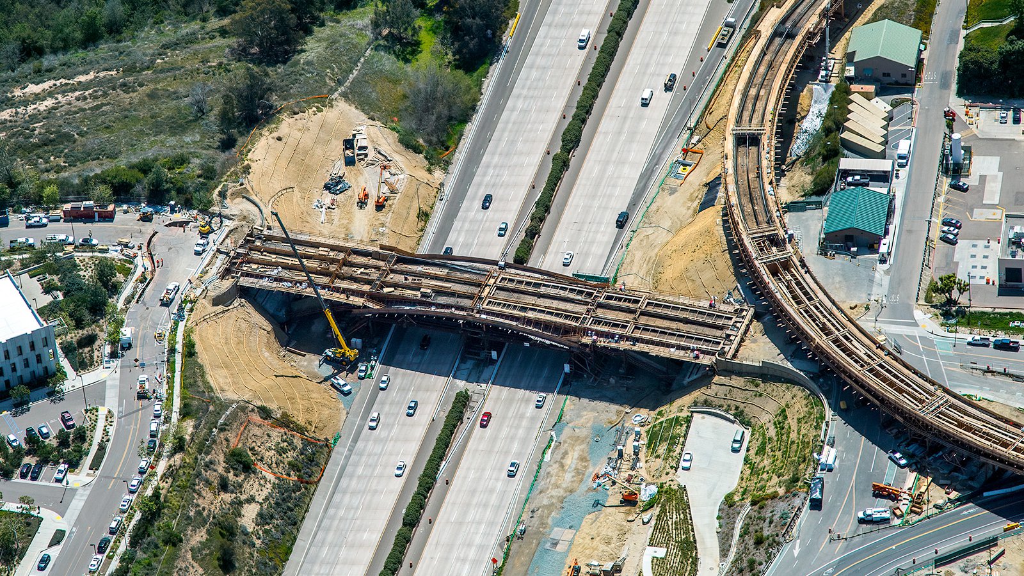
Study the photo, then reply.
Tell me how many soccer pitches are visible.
none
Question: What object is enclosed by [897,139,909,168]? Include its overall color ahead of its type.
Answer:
white vehicle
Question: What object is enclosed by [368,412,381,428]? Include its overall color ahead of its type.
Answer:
white vehicle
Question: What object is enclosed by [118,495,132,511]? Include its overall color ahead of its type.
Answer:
white car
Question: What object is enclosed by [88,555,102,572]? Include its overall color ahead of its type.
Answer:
white car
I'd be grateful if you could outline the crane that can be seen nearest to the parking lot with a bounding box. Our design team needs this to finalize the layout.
[811,0,841,84]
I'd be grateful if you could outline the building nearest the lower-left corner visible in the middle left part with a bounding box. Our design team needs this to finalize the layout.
[0,272,59,394]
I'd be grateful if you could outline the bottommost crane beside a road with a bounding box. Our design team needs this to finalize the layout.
[268,211,364,374]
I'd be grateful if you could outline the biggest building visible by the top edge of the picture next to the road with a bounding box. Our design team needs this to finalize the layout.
[847,19,922,84]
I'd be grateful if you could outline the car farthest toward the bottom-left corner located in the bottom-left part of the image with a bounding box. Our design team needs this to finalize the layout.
[37,554,50,570]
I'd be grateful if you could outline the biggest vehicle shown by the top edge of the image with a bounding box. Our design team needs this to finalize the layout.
[713,21,731,45]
